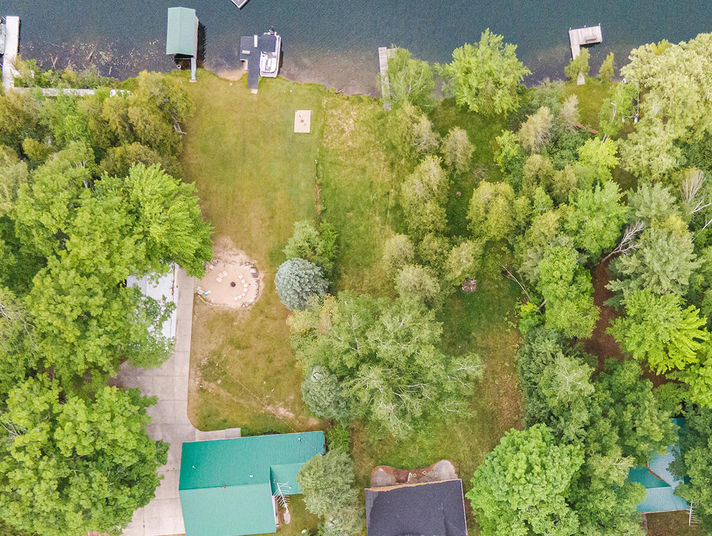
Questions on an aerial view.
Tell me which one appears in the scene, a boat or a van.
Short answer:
boat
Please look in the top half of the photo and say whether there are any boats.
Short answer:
Yes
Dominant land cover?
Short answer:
trees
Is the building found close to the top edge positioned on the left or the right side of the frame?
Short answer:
left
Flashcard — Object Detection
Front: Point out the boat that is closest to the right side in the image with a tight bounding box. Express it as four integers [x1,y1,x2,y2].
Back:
[258,27,282,80]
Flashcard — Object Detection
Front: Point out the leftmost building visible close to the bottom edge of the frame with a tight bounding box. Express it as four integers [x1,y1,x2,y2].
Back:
[179,431,330,536]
